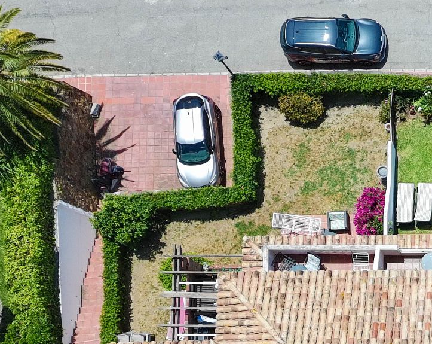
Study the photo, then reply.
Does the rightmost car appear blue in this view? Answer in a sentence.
Yes, the rightmost car is blue.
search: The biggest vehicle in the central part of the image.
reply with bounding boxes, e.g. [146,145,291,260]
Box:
[169,90,228,193]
